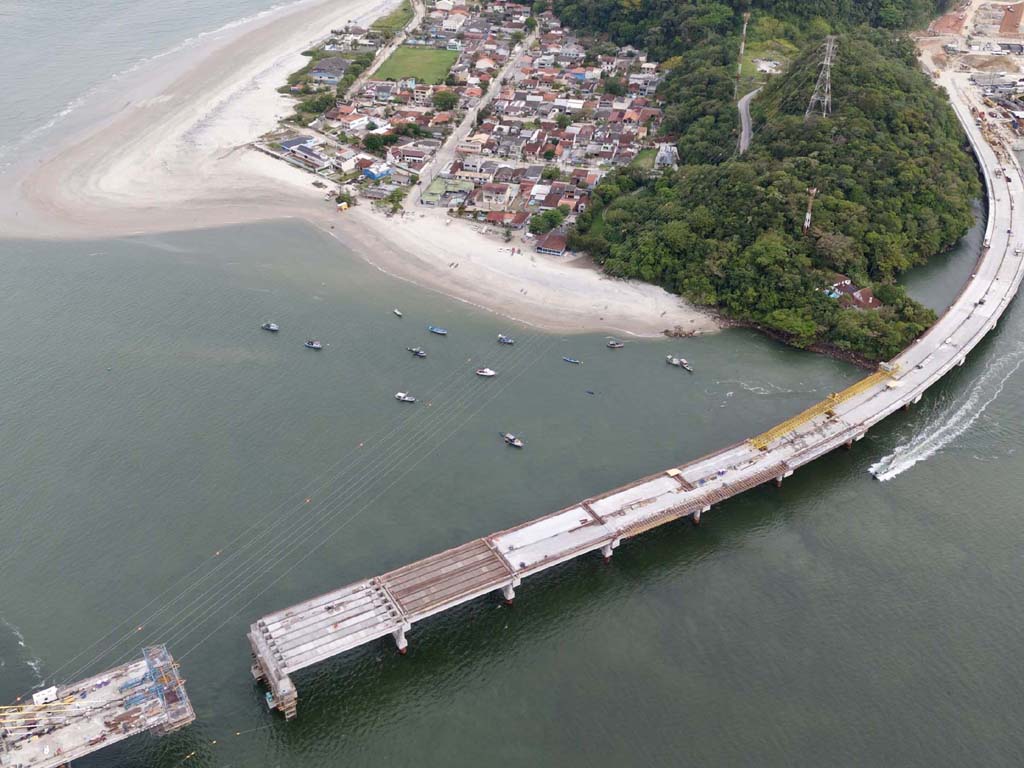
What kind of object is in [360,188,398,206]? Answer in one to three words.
house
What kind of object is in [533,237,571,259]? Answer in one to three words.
building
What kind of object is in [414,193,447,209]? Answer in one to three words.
house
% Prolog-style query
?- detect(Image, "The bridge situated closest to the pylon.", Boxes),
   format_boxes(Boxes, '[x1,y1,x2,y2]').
[250,93,1024,688]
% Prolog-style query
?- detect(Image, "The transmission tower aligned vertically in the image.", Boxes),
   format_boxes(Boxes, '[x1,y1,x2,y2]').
[802,30,840,117]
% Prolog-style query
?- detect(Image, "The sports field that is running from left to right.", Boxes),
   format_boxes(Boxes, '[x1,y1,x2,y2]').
[373,46,461,83]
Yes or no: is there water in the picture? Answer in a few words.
Yes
